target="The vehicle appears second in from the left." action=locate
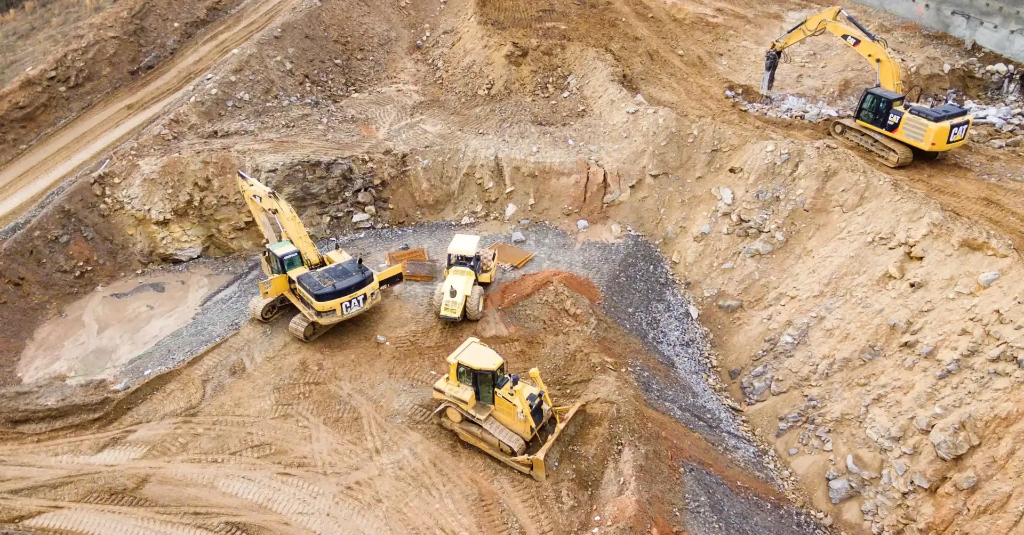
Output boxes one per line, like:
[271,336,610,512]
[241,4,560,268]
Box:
[428,335,586,483]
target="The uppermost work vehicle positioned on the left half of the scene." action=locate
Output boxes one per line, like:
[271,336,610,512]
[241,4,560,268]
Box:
[233,169,404,345]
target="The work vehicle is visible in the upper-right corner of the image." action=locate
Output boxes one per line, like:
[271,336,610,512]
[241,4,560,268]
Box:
[763,5,972,164]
